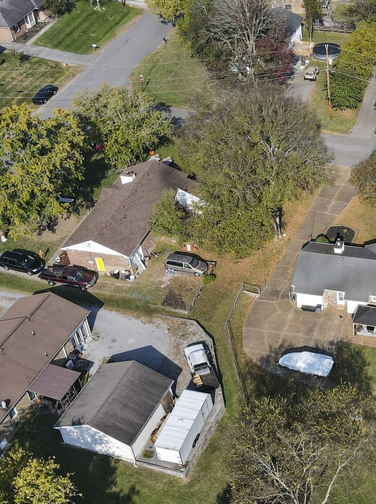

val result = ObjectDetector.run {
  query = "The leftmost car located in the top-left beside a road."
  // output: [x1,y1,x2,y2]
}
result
[32,83,58,100]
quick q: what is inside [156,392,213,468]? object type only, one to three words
trailer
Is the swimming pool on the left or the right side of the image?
right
